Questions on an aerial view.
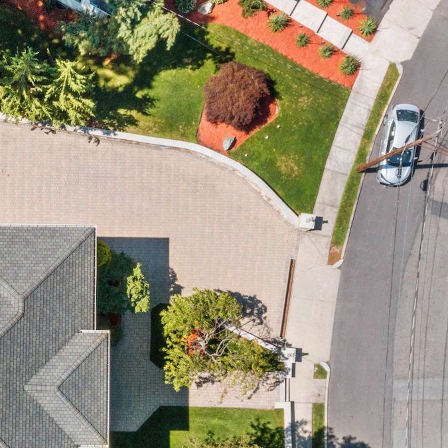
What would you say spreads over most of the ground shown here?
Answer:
paved ground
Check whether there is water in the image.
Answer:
No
